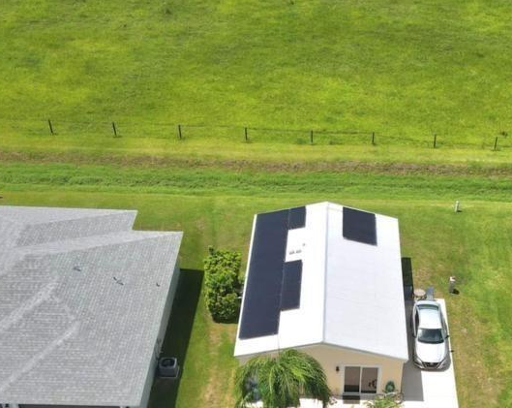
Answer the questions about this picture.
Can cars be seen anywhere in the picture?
Yes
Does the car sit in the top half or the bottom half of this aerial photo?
bottom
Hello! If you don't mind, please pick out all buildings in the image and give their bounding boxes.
[0,207,184,408]
[232,201,411,400]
